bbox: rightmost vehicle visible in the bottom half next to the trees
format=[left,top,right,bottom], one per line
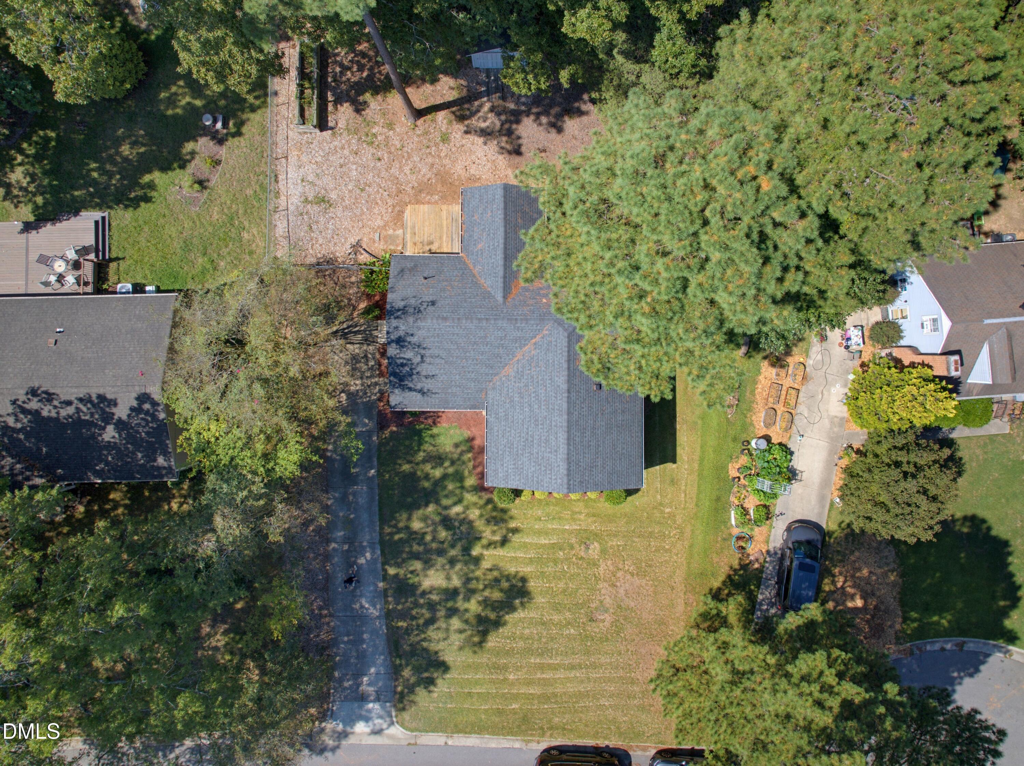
[773,522,829,615]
